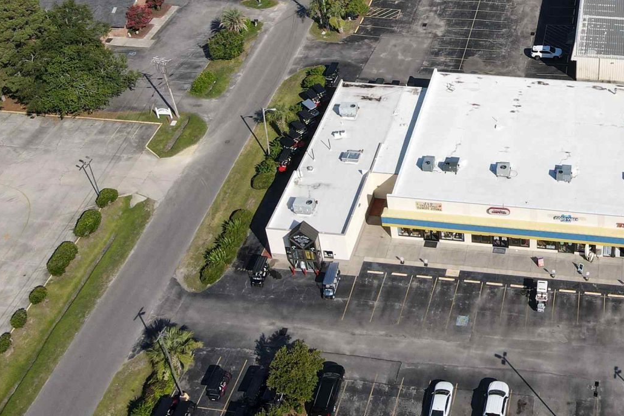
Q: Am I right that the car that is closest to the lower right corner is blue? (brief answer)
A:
No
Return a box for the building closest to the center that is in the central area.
[263,76,424,271]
